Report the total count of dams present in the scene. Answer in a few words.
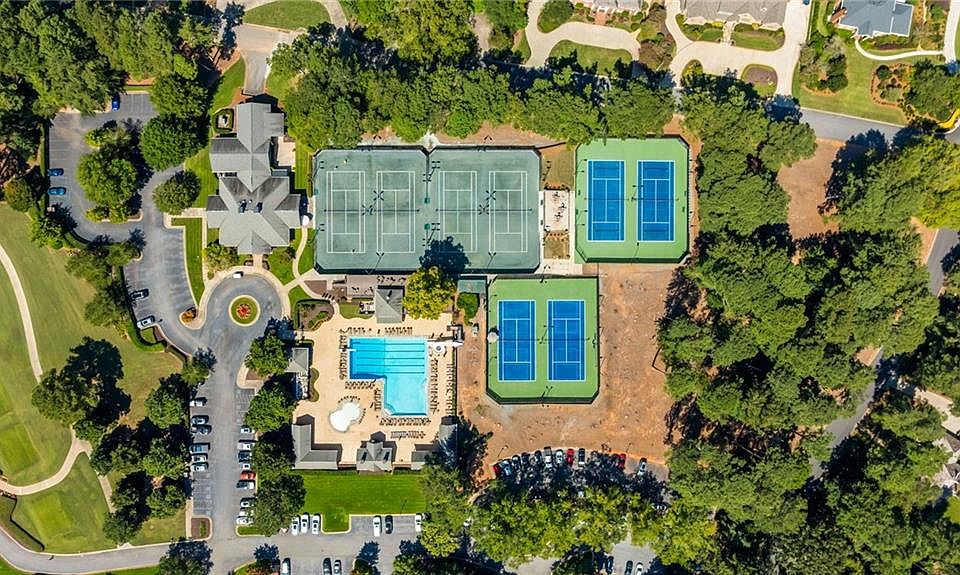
0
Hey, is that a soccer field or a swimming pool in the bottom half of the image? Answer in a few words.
swimming pool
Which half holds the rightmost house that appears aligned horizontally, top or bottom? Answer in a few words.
top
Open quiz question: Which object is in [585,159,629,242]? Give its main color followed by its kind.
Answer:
blue tennis court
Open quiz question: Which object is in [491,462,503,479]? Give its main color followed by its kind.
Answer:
red vehicle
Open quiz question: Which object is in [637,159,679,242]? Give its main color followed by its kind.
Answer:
blue tennis court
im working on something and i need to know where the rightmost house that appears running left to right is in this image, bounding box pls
[826,0,914,40]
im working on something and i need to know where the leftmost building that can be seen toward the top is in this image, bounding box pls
[202,100,304,254]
